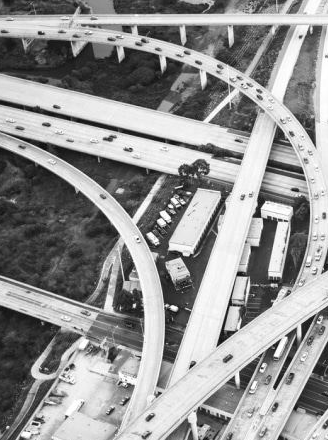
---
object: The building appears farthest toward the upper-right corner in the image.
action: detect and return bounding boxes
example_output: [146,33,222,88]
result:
[260,200,292,223]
